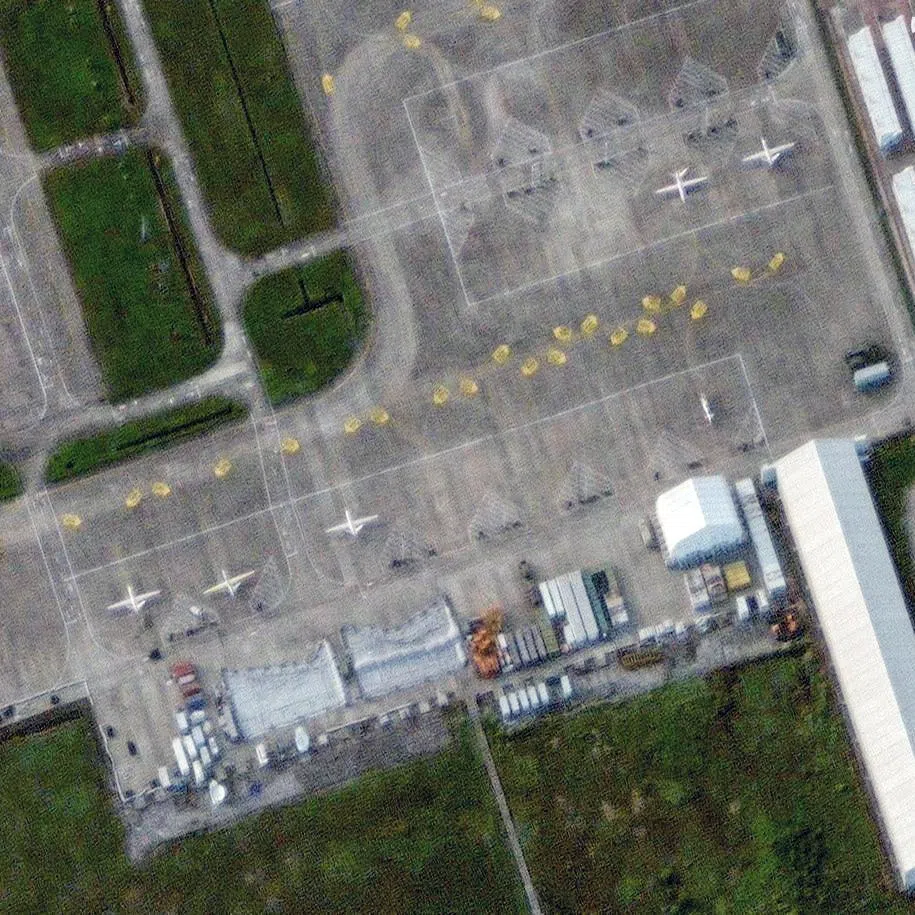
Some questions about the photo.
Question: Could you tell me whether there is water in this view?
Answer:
No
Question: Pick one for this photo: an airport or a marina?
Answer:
airport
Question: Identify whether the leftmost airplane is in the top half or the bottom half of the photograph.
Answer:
bottom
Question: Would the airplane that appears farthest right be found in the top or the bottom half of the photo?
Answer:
top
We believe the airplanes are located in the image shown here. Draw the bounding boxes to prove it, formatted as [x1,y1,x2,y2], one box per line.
[743,138,793,168]
[655,167,706,201]
[204,571,253,598]
[109,587,159,614]
[701,395,716,424]
[326,511,377,538]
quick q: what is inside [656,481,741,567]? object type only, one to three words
hangar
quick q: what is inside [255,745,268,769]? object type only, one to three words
vehicle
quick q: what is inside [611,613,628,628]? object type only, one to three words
vehicle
